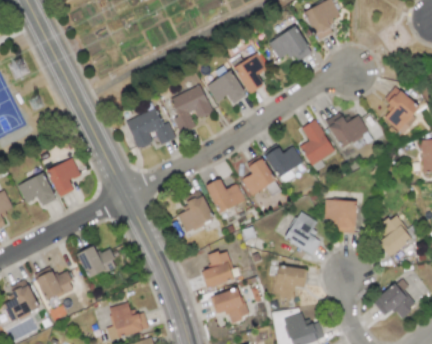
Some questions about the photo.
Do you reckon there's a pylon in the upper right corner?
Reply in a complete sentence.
No, looking in the upper right corner, there is no pylon.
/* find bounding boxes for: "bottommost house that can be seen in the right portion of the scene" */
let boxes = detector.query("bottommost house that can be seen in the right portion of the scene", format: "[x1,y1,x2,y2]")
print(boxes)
[282,310,326,344]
